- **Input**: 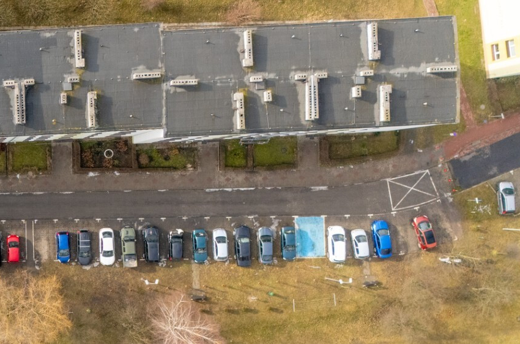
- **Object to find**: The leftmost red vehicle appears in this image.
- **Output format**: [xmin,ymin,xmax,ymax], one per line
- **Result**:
[6,234,22,262]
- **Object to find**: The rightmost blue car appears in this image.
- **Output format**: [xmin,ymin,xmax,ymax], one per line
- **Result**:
[371,220,391,259]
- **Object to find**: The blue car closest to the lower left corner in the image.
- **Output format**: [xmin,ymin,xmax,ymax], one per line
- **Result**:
[55,231,72,263]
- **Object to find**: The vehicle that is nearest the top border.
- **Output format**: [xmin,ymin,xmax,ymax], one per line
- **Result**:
[496,181,518,215]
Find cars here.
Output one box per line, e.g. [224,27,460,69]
[6,234,22,262]
[99,228,116,265]
[279,225,298,260]
[412,215,436,251]
[168,229,186,260]
[256,227,275,263]
[211,228,230,261]
[233,225,253,265]
[119,227,138,267]
[371,220,391,259]
[55,231,72,263]
[142,225,161,262]
[326,225,347,262]
[76,229,93,265]
[191,229,209,263]
[349,228,370,259]
[496,181,518,215]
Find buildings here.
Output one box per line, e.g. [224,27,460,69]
[479,0,520,78]
[0,16,459,152]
